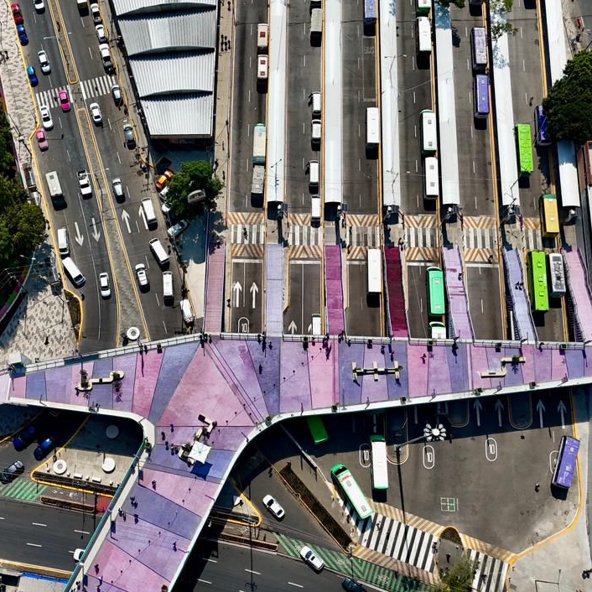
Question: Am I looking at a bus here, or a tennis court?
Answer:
bus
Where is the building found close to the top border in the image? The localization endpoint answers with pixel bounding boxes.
[114,0,217,151]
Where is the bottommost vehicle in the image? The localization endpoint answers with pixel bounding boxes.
[341,576,367,592]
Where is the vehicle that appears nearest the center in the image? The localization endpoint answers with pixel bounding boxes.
[309,316,322,336]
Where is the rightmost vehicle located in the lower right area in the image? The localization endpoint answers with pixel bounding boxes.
[548,436,577,488]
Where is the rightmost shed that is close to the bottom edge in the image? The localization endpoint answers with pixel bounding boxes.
[19,571,69,592]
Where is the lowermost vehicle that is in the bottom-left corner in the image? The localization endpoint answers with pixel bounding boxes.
[72,548,88,561]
